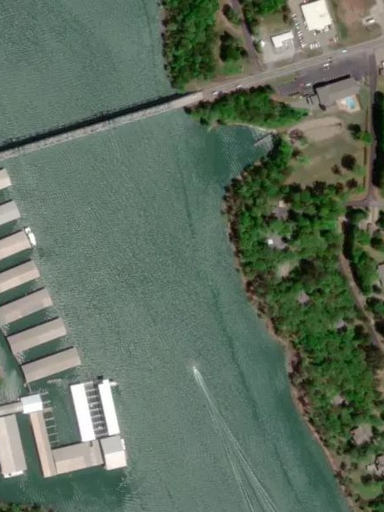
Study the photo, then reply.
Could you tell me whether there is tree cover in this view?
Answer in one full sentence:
Yes, there's tree cover in this view.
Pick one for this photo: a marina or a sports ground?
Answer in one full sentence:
The picture captures a marina.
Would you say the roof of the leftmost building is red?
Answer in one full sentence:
No, the color of the roof of the leftmost building is white.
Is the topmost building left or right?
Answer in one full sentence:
You can find the topmost building on the right side of the picture.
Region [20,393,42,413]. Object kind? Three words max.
building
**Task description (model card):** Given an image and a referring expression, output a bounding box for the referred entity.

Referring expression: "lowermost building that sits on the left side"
[99,433,126,471]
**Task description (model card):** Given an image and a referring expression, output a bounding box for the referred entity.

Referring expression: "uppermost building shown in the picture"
[300,0,333,30]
